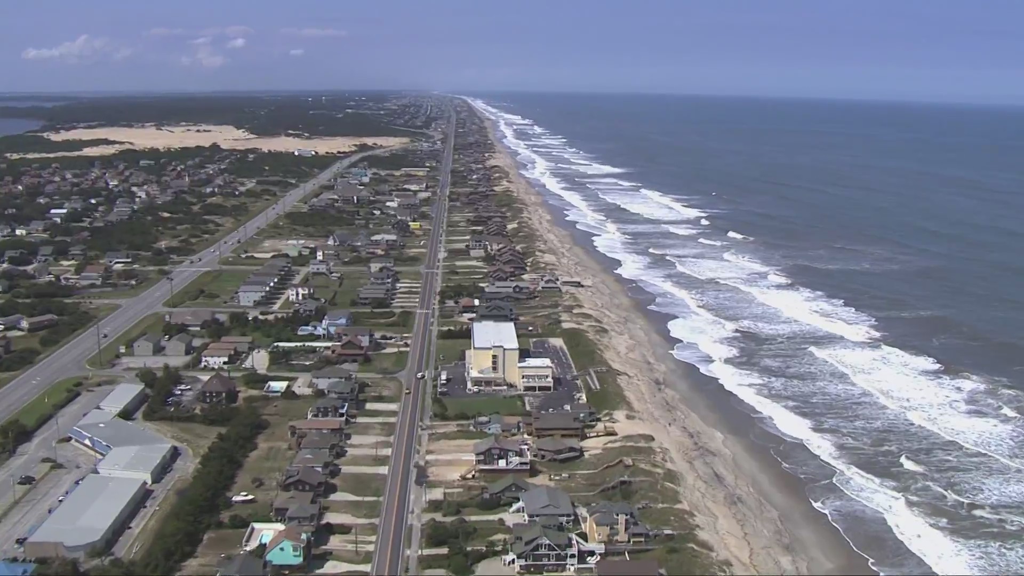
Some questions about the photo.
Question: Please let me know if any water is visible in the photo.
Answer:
Yes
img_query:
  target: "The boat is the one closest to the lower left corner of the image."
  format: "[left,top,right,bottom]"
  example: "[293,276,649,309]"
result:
[229,486,259,501]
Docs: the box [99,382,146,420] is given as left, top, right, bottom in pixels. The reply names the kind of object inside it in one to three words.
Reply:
building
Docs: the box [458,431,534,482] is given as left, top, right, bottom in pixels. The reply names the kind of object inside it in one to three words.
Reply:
house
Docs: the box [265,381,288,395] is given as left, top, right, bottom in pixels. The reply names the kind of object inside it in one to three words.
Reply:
swimming pool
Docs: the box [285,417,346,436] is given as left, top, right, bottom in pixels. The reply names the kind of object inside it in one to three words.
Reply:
house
